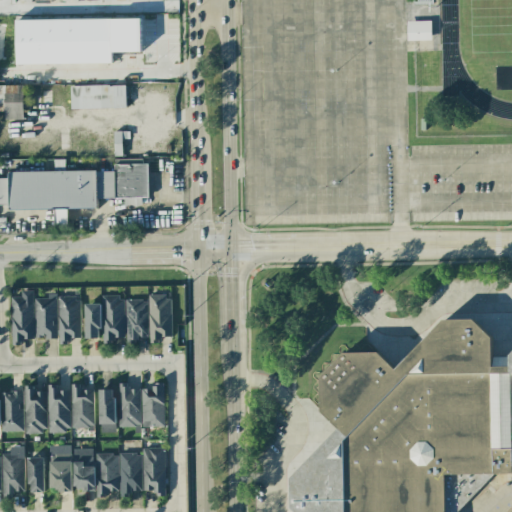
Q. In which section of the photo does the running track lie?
top right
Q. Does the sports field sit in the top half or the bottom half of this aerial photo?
top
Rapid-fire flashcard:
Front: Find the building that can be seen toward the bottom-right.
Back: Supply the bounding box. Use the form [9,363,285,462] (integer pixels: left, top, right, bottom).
[289,318,512,512]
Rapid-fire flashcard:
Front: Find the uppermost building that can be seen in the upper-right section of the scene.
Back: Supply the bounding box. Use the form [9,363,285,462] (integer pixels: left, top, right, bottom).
[408,21,432,41]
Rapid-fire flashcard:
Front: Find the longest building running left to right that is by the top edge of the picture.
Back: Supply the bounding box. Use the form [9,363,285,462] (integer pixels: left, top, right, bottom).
[14,18,142,64]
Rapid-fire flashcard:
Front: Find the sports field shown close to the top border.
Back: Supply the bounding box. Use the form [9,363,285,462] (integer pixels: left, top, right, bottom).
[459,0,512,102]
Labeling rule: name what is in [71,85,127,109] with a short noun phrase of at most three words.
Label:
building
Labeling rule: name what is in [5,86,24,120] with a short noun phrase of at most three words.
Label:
shed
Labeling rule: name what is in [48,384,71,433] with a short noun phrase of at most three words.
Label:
house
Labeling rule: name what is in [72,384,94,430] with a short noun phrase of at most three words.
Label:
house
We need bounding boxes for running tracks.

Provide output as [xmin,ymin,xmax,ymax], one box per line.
[442,0,512,120]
